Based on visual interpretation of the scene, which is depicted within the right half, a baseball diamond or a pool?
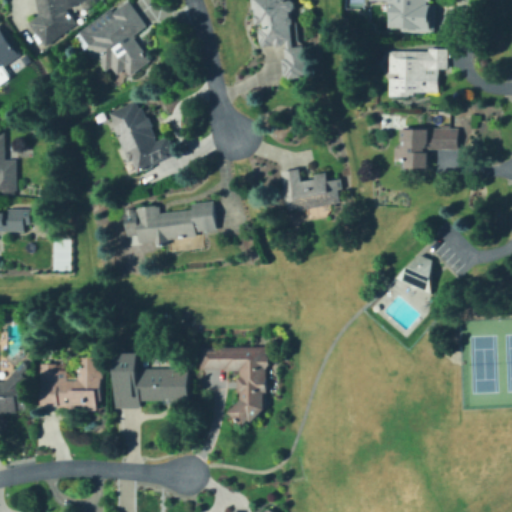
pool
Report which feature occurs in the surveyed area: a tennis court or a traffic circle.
tennis court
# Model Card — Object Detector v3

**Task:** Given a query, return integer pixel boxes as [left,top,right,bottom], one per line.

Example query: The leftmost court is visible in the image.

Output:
[462,319,502,409]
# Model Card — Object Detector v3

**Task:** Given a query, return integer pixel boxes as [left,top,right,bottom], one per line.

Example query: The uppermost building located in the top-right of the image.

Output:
[388,0,429,31]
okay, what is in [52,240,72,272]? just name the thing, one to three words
shed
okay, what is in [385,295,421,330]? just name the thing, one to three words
swimming pool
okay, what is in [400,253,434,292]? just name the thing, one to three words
building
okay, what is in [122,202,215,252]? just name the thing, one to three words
house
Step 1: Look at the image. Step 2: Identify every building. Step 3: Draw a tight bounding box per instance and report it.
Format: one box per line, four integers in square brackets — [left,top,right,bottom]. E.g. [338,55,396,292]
[110,354,188,408]
[388,0,429,31]
[0,360,26,414]
[250,0,305,77]
[30,0,86,46]
[0,26,22,71]
[0,128,16,193]
[388,48,448,97]
[0,208,30,235]
[394,128,460,170]
[78,0,148,76]
[400,253,434,292]
[52,240,72,272]
[288,168,342,210]
[122,202,215,252]
[38,355,96,410]
[109,100,172,176]
[198,348,268,423]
